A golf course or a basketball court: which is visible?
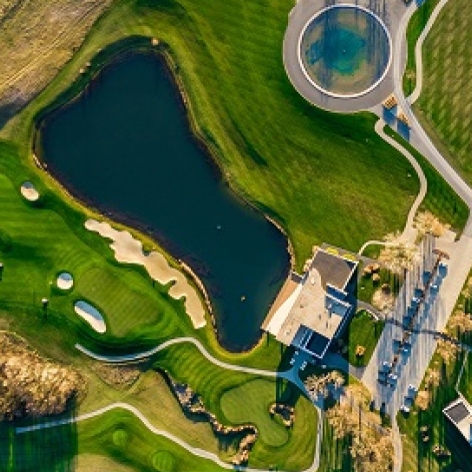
golf course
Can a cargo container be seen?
No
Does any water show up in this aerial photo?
Yes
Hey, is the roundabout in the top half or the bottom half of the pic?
top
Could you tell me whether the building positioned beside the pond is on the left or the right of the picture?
right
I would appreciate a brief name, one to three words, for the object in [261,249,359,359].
building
